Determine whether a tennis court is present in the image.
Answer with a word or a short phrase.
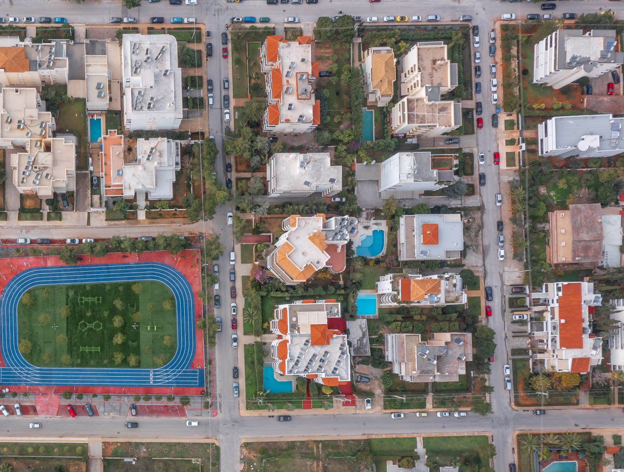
No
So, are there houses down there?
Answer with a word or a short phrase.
Yes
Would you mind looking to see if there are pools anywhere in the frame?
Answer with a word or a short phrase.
Yes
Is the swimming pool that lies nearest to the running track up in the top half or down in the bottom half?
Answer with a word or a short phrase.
bottom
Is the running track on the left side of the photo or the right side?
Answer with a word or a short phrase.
left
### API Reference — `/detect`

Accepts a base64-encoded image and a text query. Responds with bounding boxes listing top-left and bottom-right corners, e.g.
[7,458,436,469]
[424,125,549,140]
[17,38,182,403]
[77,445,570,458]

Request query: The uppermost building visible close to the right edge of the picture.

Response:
[532,30,624,91]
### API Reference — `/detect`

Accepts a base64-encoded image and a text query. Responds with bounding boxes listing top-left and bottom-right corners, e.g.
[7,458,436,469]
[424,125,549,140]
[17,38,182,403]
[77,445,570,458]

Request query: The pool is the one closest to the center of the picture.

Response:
[355,228,386,258]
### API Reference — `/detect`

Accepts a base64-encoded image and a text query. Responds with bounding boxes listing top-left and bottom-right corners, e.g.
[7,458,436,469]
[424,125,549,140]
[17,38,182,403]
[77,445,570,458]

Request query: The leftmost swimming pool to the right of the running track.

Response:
[262,366,294,394]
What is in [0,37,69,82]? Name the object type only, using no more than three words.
building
